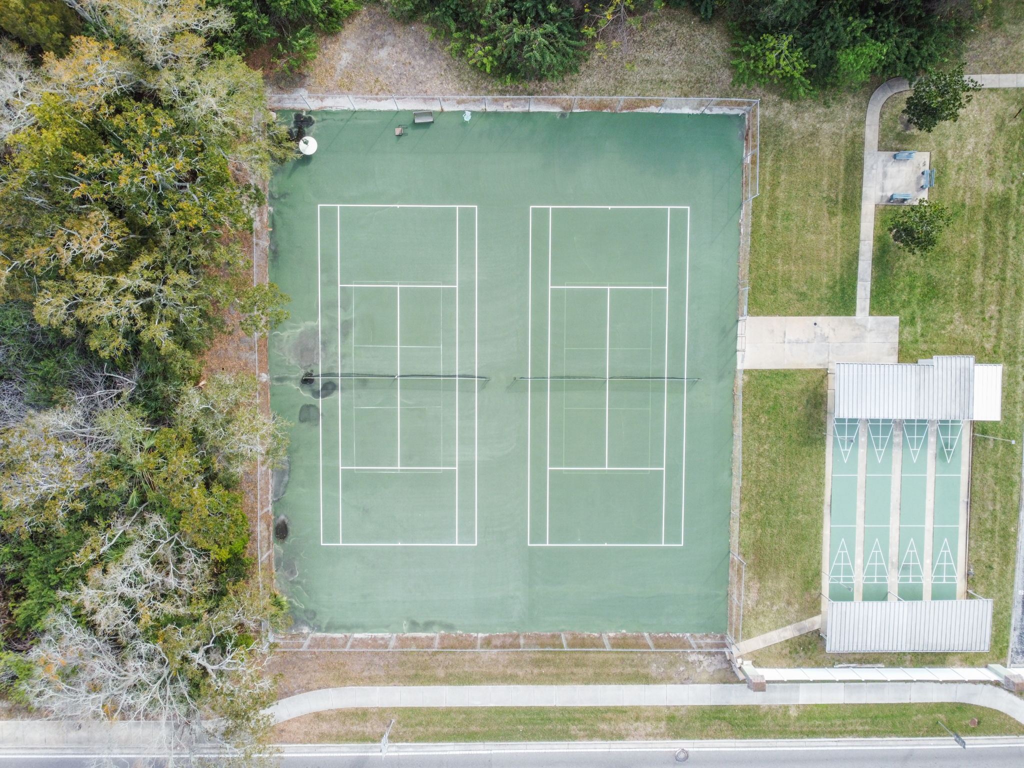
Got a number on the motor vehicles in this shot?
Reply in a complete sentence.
There are no motor vehicles in this view.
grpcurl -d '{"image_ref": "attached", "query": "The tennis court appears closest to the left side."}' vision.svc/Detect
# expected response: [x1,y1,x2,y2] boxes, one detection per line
[268,110,530,635]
